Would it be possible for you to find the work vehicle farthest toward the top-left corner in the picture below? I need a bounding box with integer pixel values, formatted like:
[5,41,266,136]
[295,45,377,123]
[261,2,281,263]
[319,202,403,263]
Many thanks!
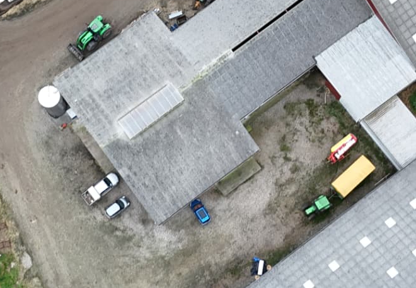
[67,17,111,60]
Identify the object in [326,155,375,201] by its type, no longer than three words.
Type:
trailer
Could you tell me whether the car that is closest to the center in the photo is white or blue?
blue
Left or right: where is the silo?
left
